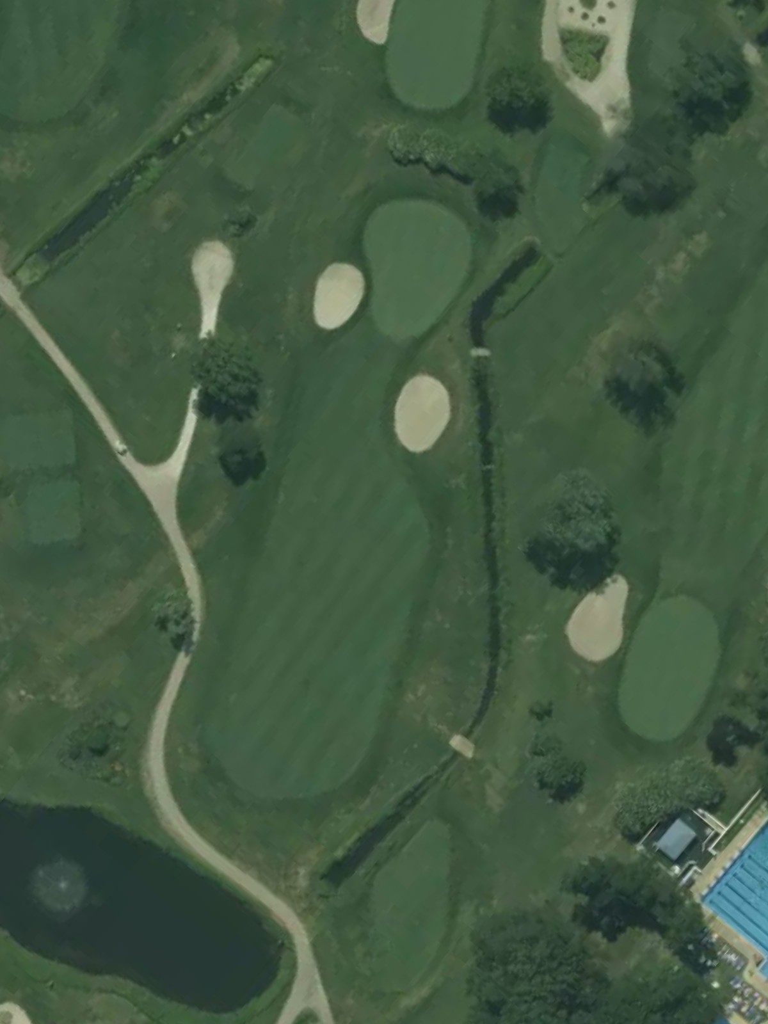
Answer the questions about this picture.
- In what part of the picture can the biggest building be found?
bottom right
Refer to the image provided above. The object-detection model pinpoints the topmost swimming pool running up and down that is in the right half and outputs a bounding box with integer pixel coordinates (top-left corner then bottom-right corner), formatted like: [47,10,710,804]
[707,818,768,974]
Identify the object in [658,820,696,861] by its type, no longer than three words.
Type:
building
